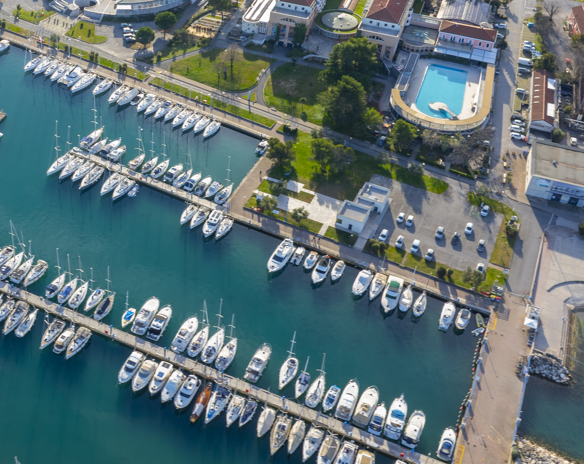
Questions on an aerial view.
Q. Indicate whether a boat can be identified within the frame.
Yes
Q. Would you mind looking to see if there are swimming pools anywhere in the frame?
Yes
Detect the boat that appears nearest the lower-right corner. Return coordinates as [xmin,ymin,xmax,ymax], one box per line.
[437,425,456,464]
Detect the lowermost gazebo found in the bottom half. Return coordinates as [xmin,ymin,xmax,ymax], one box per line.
[522,315,544,336]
